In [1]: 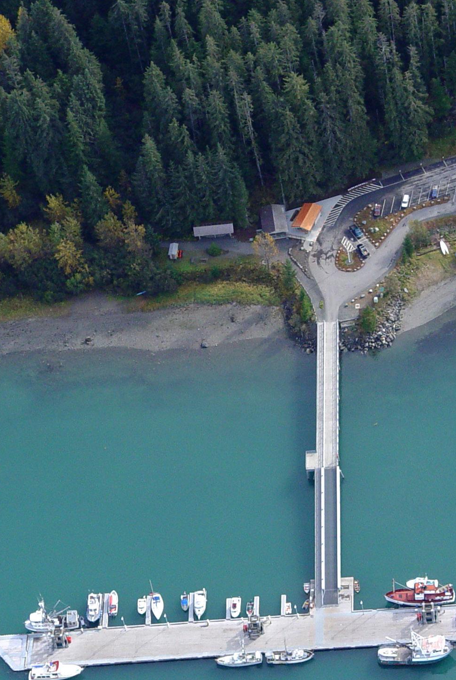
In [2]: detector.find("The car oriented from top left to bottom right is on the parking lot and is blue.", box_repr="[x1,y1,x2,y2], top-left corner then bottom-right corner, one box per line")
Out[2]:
[348,224,365,240]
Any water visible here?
Yes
